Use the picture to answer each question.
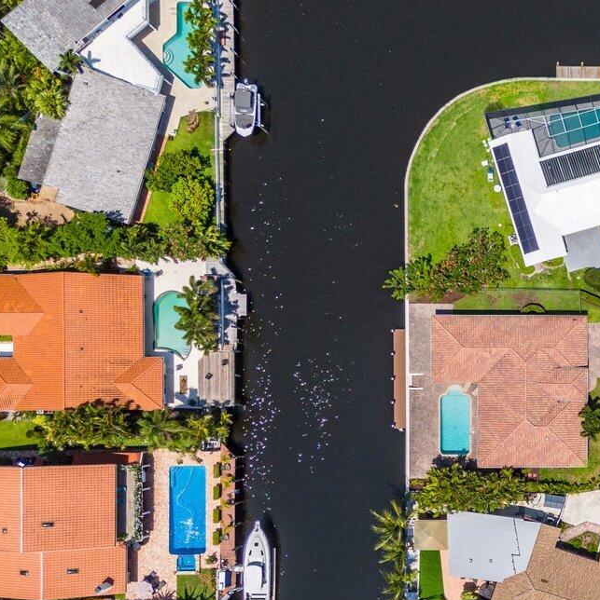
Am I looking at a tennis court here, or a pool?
pool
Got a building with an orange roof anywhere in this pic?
Yes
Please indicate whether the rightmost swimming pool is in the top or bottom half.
top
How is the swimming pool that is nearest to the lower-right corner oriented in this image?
from top to bottom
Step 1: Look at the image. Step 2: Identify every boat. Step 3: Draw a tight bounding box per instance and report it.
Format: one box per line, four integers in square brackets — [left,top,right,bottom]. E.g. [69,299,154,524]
[243,522,270,600]
[233,78,256,136]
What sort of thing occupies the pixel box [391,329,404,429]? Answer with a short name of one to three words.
pier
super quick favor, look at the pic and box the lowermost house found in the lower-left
[0,452,151,600]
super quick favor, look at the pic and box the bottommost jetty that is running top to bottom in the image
[219,445,246,600]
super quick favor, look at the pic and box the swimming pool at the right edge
[548,104,600,148]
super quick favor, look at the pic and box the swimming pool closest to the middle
[153,289,196,361]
